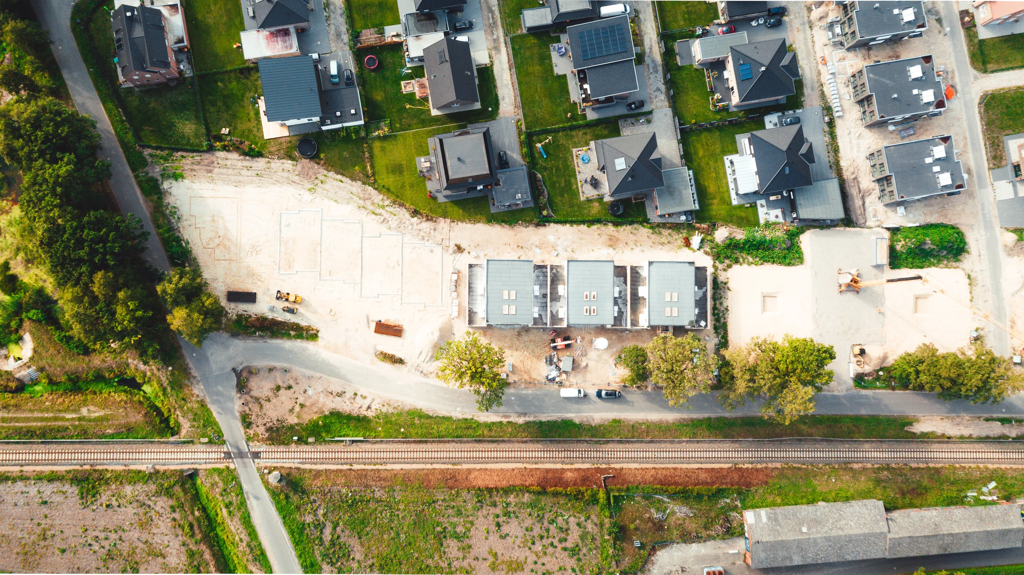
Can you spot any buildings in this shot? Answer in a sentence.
Yes, a building can be made out from above.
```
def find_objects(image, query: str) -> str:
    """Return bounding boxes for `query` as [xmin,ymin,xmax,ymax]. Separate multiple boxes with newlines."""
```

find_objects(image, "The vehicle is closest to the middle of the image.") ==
[550,336,583,350]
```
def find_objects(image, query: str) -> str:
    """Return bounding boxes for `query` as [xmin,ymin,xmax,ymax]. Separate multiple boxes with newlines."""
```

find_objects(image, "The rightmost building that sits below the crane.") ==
[883,503,1024,558]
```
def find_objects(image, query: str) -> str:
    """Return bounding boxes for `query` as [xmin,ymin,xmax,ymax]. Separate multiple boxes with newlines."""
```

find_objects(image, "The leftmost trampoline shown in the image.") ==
[296,137,315,156]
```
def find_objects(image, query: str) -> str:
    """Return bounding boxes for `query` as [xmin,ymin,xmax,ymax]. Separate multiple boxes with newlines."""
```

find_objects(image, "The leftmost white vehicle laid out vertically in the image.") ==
[327,57,340,82]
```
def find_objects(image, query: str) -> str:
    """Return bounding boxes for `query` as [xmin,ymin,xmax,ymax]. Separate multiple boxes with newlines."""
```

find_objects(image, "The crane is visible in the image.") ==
[837,268,1024,347]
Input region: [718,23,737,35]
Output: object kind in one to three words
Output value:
vehicle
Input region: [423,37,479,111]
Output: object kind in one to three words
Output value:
house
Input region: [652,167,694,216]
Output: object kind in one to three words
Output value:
building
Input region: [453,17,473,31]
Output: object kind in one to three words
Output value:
car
